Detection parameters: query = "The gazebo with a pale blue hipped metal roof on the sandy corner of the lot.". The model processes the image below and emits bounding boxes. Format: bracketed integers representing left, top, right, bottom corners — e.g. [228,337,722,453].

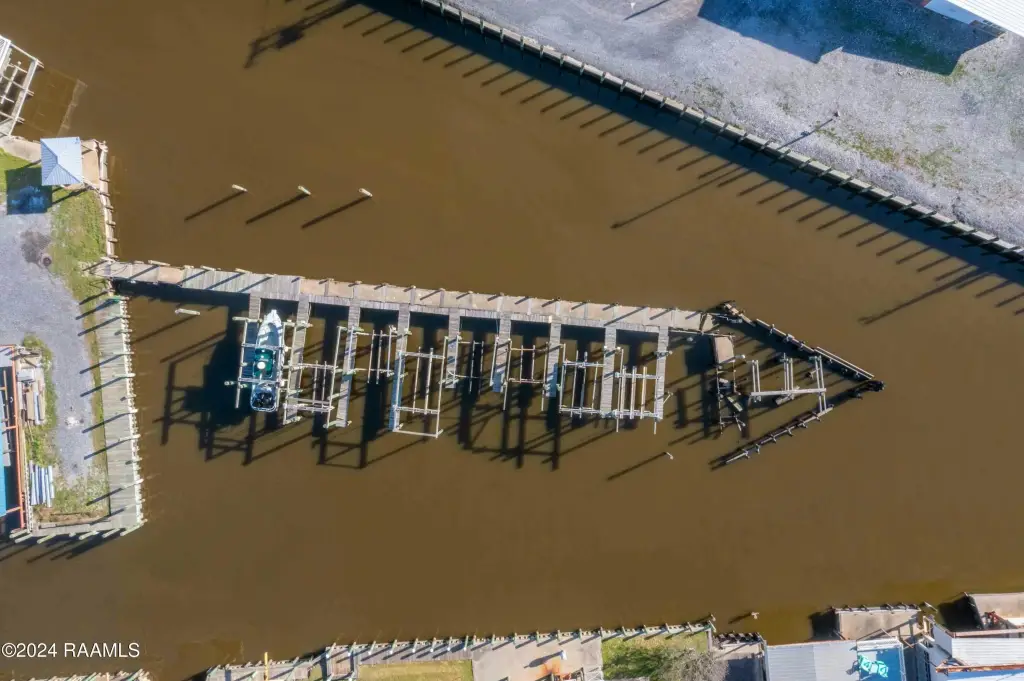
[40,137,100,189]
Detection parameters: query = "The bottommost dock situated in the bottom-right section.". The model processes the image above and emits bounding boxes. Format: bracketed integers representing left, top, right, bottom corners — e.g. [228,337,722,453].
[833,601,937,663]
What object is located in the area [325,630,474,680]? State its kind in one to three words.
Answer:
pier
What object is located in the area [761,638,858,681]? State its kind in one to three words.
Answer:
shed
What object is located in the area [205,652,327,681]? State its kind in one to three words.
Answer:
pier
